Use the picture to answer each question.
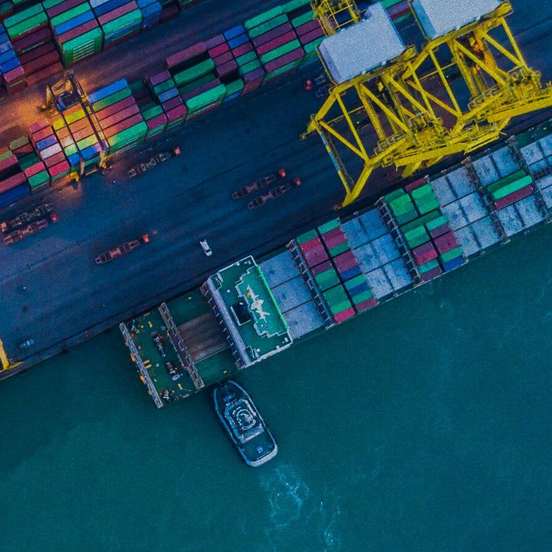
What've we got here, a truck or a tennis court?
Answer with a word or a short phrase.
truck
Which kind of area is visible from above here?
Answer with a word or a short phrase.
port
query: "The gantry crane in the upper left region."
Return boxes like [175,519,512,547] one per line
[36,72,111,187]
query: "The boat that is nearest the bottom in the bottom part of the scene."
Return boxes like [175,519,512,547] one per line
[217,382,280,471]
